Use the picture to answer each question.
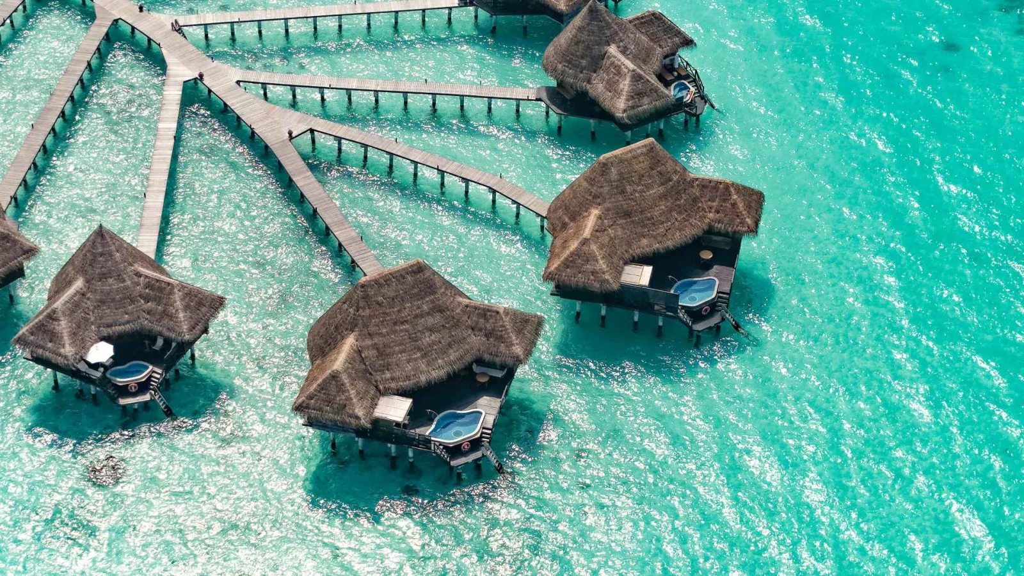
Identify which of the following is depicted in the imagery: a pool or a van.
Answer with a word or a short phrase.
pool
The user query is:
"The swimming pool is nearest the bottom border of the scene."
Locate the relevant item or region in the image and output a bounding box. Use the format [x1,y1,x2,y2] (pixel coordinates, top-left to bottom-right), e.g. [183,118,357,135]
[418,412,484,458]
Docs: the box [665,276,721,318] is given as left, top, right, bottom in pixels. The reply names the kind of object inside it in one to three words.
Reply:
swimming pool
